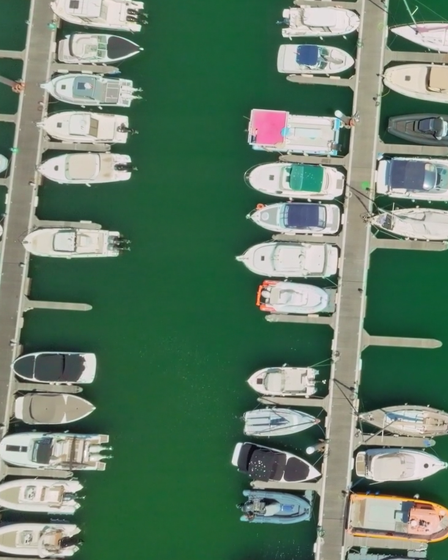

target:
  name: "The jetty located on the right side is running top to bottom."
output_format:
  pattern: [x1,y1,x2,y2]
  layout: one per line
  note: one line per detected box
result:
[251,0,448,560]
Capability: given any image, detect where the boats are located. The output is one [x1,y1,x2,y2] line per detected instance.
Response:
[344,490,448,544]
[243,404,320,436]
[34,152,144,187]
[253,279,330,314]
[236,448,321,483]
[231,489,315,521]
[391,0,448,54]
[376,157,448,206]
[46,0,155,33]
[272,0,361,41]
[0,478,95,513]
[0,429,111,468]
[10,353,102,386]
[239,160,347,203]
[387,116,448,147]
[0,156,9,172]
[244,363,331,397]
[361,200,448,242]
[18,393,96,424]
[18,229,135,260]
[356,447,448,483]
[228,242,341,278]
[0,522,94,555]
[277,45,354,77]
[244,200,343,236]
[357,402,448,440]
[30,111,144,145]
[380,63,448,103]
[34,73,151,109]
[61,31,142,65]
